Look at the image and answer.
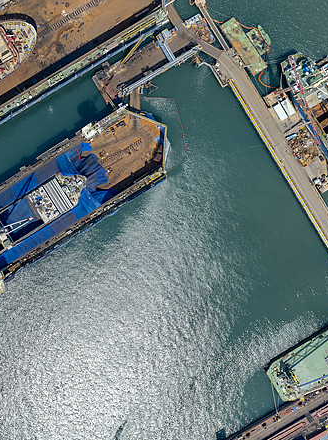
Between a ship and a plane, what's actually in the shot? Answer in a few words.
ship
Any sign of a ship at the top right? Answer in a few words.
Yes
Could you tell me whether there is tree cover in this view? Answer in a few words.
No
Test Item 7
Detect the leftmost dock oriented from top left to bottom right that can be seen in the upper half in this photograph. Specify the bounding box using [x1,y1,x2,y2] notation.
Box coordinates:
[193,0,233,57]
